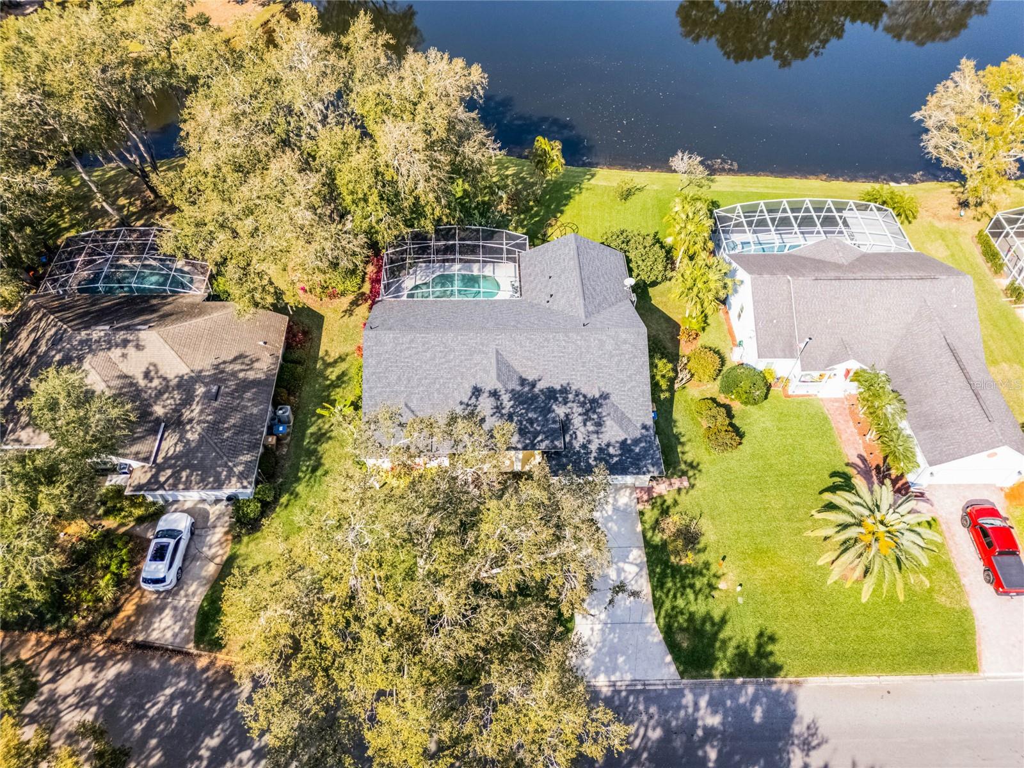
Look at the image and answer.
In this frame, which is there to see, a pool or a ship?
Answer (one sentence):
The image shows a pool.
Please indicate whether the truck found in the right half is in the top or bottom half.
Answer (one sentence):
Seen from above, the truck found in the right half lies in the bottom half of the view.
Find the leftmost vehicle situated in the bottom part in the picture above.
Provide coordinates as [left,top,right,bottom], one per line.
[137,506,199,588]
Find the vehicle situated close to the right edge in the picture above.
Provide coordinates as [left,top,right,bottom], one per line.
[968,499,1024,600]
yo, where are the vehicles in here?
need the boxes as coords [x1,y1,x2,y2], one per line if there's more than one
[137,506,199,588]
[968,499,1024,600]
